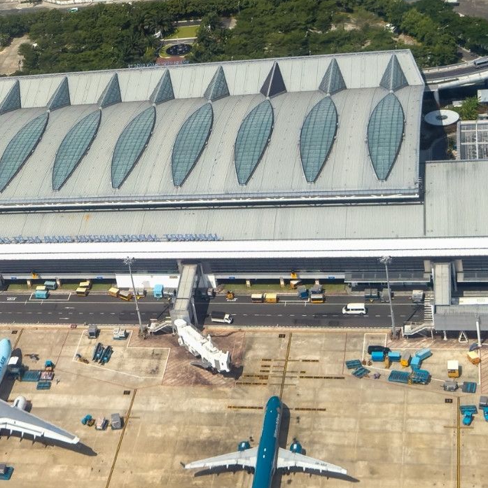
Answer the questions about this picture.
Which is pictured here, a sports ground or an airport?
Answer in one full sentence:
What you see here is an airport.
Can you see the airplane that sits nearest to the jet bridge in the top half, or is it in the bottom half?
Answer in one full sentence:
Seen from above, the airplane that sits nearest to the jet bridge lies in the bottom half of the view.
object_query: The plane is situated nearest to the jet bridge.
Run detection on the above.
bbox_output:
[181,397,346,488]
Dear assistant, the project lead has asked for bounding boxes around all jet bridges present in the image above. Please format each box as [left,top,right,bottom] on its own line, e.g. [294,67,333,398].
[171,318,239,380]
